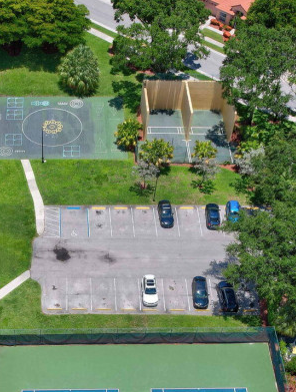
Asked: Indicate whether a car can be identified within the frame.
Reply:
Yes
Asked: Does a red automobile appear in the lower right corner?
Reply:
No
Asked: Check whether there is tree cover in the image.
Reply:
Yes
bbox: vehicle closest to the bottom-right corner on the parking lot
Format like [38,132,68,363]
[215,281,238,313]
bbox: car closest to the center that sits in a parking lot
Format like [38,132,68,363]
[158,202,175,230]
